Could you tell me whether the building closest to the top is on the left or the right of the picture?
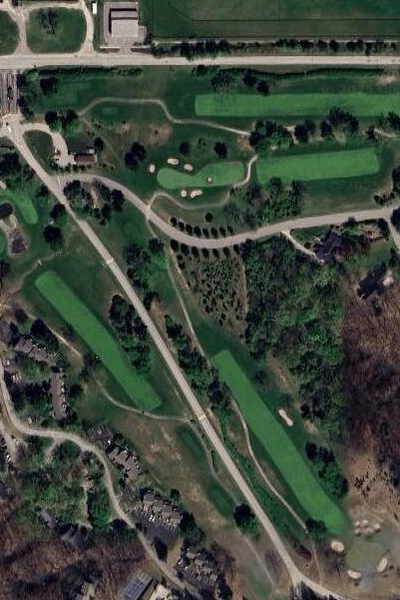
left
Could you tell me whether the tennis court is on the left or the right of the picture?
left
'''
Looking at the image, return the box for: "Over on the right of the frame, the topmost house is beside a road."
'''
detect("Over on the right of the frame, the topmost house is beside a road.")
[317,228,352,257]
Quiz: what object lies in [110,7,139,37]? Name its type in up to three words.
building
